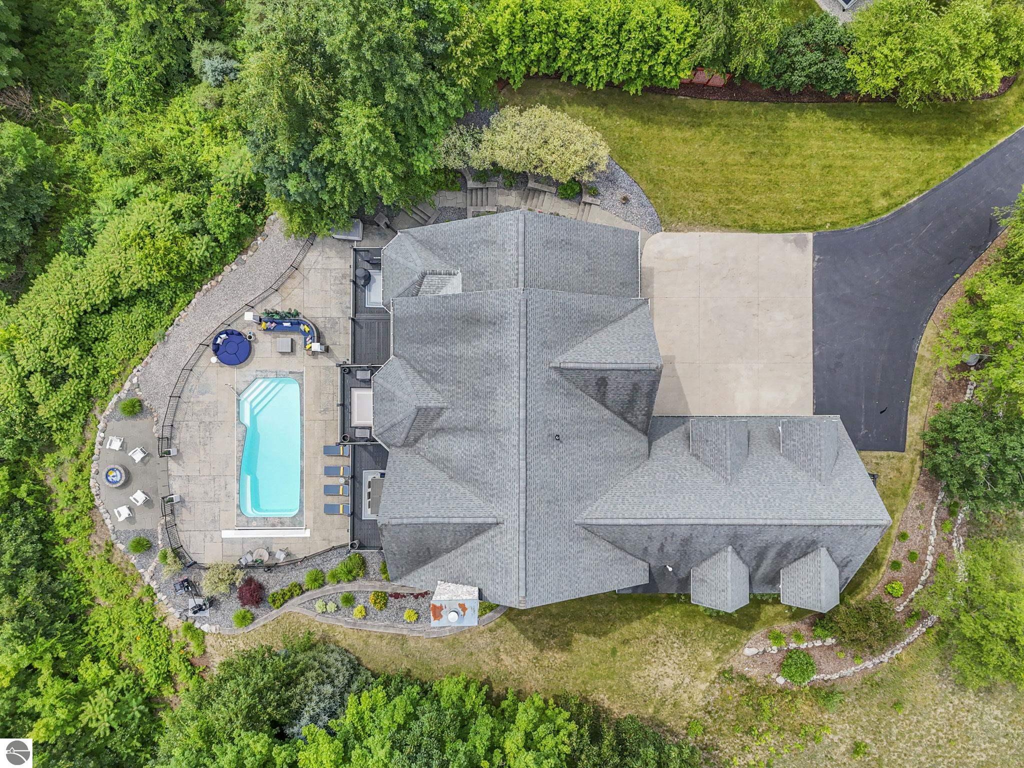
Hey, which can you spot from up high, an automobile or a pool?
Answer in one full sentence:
This aerial view contains a pool.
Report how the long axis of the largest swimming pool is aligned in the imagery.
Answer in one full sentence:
I'd say the largest swimming pool is aligned up and down in the picture.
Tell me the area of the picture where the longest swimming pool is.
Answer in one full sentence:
The longest swimming pool is in the left part of the image.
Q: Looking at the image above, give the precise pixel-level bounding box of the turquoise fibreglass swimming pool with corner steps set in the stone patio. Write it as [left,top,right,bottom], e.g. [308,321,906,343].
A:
[237,372,303,526]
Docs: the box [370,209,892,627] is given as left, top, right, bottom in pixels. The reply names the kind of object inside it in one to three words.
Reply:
house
